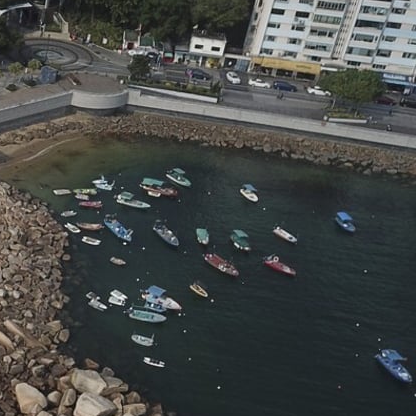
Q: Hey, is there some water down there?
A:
Yes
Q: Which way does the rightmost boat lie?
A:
diagonally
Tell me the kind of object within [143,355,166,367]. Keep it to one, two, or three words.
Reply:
boat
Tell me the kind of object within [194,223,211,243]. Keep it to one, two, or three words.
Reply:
boat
